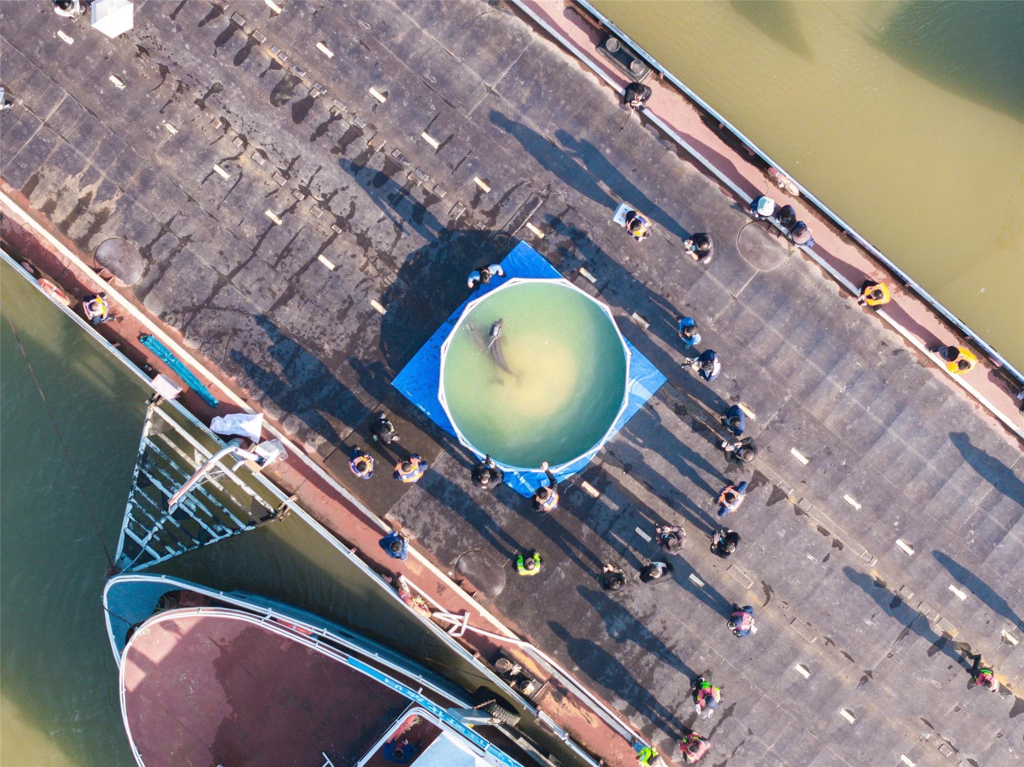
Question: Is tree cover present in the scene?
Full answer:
No, there is no tree cover in the image.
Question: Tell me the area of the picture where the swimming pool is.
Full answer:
The swimming pool sits in the center section of the image.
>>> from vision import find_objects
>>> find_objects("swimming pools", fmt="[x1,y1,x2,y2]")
[437,279,630,472]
